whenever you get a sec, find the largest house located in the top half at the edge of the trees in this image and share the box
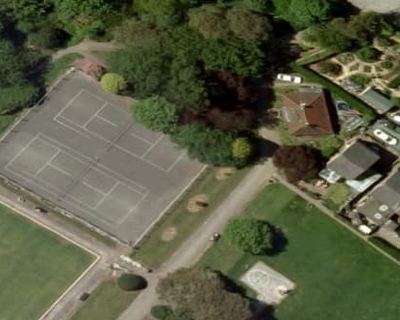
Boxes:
[281,88,336,136]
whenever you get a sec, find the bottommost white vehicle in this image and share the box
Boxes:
[374,128,398,145]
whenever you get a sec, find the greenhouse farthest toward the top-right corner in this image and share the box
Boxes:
[360,88,394,114]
